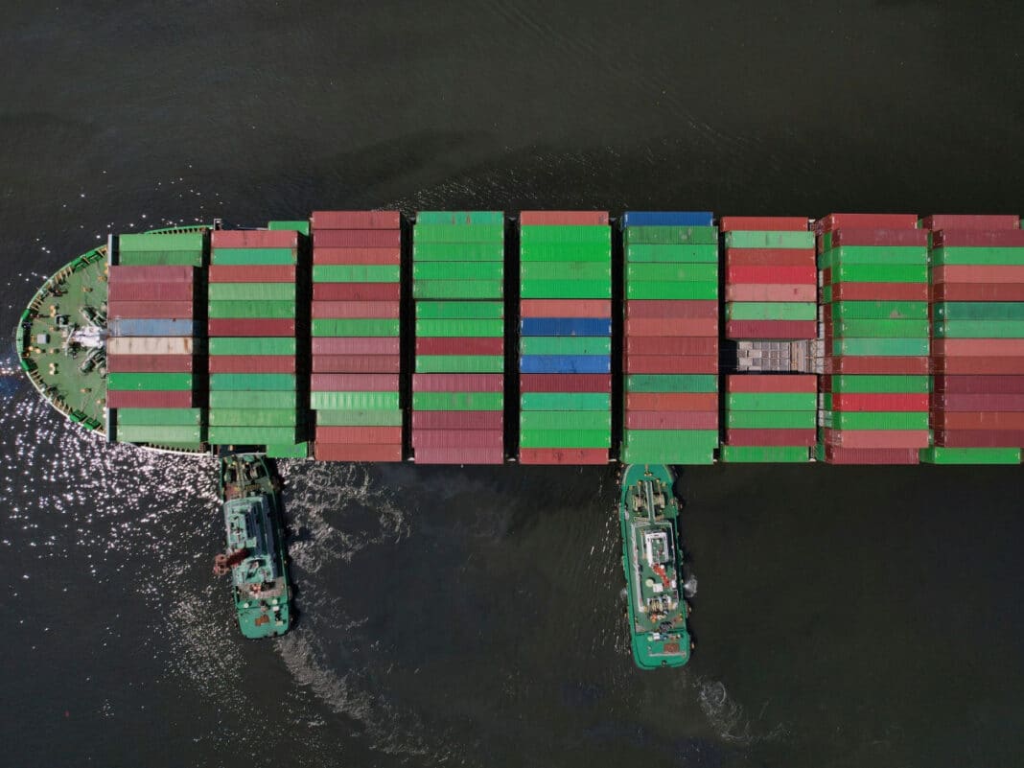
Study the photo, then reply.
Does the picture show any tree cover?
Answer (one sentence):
No, no tree cover is visible.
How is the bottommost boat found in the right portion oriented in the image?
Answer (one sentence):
The bottommost boat found in the right portion is oriented vertically.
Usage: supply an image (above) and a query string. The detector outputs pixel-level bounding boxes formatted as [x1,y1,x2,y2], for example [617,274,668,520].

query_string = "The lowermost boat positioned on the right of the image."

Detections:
[618,463,693,672]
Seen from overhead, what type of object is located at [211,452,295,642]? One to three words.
boat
